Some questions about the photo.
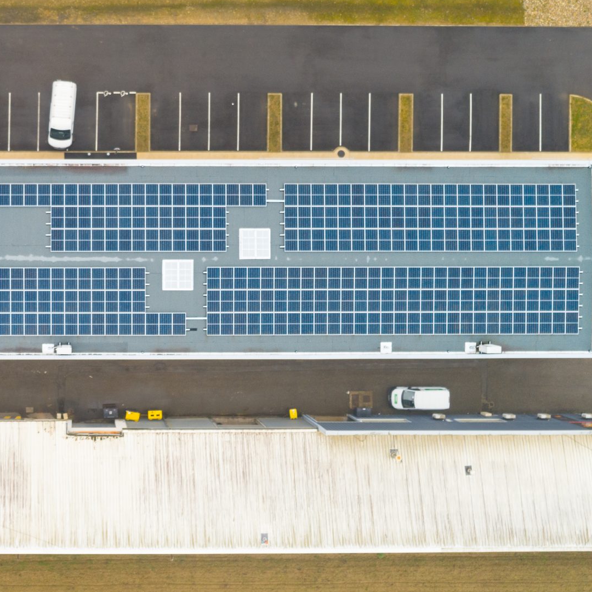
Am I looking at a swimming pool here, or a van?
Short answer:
van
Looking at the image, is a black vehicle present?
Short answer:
No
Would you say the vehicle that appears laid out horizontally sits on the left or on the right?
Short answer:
right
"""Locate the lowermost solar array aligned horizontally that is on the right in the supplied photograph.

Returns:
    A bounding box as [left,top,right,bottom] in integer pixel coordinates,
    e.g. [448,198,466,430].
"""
[203,267,583,335]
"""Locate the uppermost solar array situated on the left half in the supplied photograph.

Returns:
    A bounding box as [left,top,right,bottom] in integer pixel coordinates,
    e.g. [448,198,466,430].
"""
[0,184,271,251]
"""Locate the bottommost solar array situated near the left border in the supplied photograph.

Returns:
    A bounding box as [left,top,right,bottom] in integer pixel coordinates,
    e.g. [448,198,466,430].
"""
[0,267,190,335]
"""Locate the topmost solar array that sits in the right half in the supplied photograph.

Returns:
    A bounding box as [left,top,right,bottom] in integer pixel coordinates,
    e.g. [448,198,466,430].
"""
[281,184,580,251]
